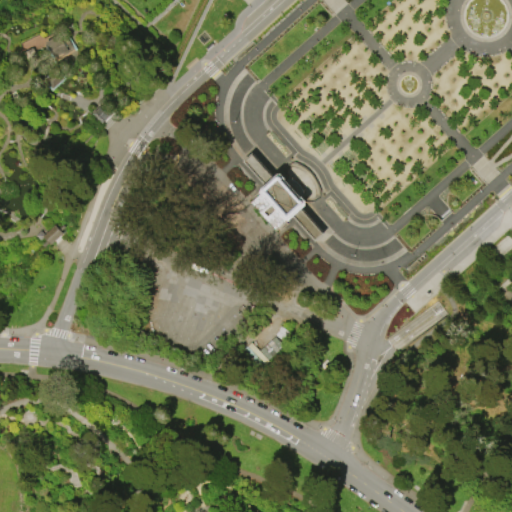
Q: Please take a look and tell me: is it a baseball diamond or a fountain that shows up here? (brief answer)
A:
fountain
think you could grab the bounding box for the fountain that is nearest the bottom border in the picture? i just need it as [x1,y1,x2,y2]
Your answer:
[398,72,422,96]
